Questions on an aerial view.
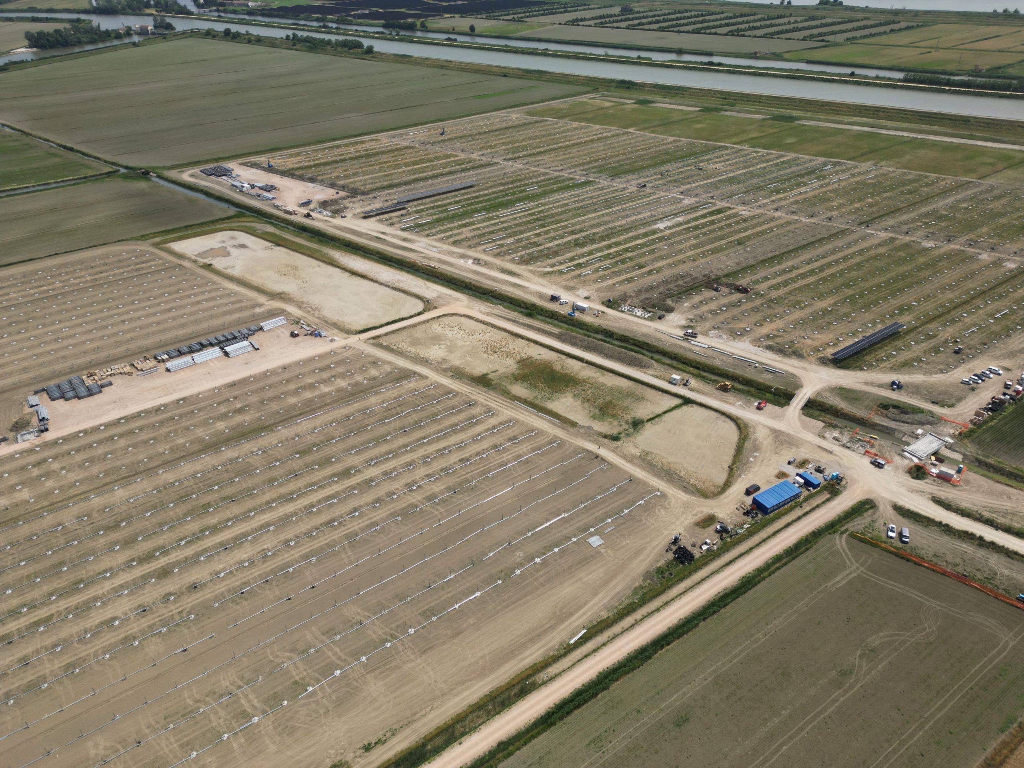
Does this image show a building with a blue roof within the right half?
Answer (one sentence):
Yes, a building with a blue roof is visible within the right half.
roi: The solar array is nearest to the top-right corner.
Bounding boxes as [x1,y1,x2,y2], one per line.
[831,321,906,360]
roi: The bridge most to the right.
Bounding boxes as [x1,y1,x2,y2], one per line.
[903,432,949,462]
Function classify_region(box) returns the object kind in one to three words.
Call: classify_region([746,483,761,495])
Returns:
vehicle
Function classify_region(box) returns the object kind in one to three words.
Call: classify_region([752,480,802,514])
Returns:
building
